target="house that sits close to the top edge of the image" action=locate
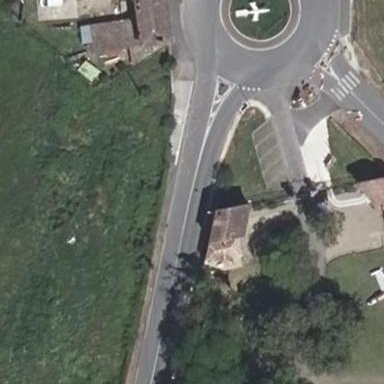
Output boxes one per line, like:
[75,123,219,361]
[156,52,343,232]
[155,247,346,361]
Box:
[78,0,172,65]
